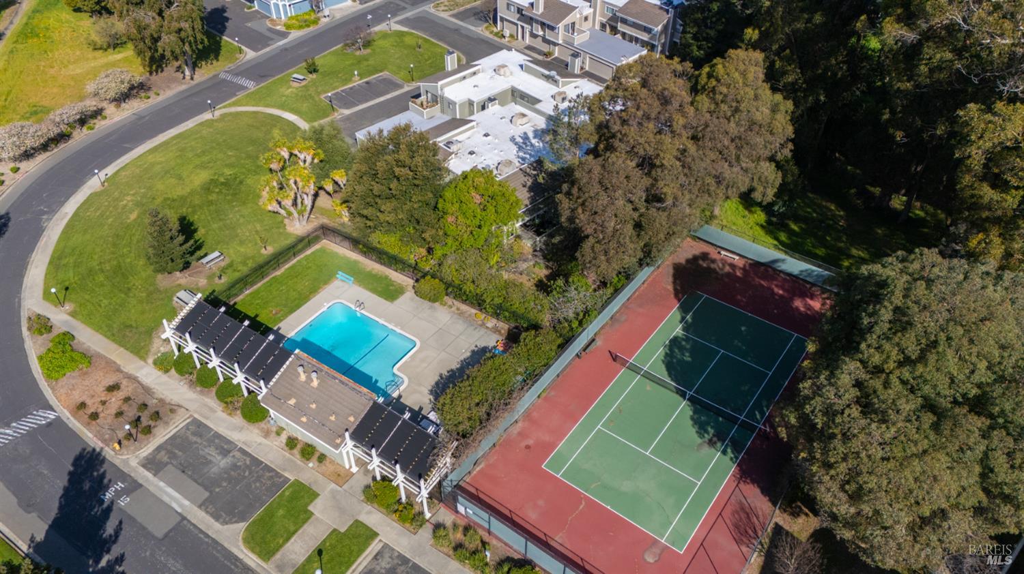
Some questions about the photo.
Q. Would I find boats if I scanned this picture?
No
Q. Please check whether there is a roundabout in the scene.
No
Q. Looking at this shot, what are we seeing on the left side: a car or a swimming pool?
swimming pool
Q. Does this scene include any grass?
Yes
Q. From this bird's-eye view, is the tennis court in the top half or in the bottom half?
bottom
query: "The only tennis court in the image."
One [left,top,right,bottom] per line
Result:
[450,242,867,574]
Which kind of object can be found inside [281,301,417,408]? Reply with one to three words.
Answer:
swimming pool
